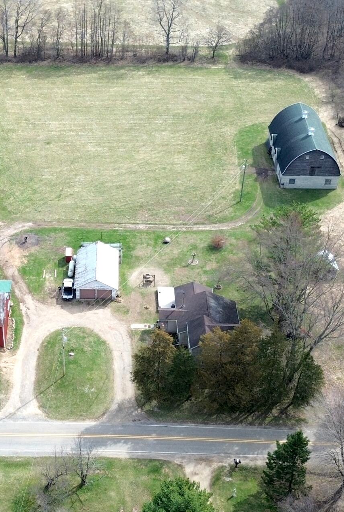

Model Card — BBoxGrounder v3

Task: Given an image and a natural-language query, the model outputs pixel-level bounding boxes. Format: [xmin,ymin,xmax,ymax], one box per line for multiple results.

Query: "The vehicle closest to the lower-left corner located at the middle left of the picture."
[61,279,74,298]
